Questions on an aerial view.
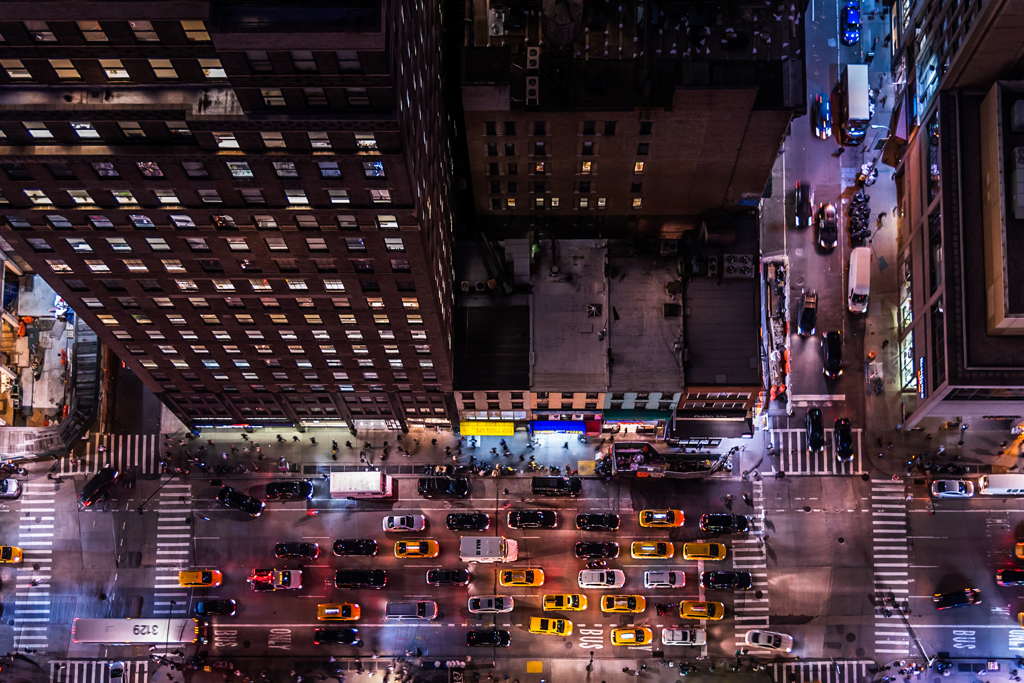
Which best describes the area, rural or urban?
urban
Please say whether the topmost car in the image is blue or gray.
blue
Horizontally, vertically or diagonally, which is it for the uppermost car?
vertically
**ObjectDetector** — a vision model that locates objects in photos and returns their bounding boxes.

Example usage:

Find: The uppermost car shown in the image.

[841,2,862,45]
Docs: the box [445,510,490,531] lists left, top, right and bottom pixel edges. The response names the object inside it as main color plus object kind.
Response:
black car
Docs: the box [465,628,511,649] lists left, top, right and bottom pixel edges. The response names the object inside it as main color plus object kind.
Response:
black car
